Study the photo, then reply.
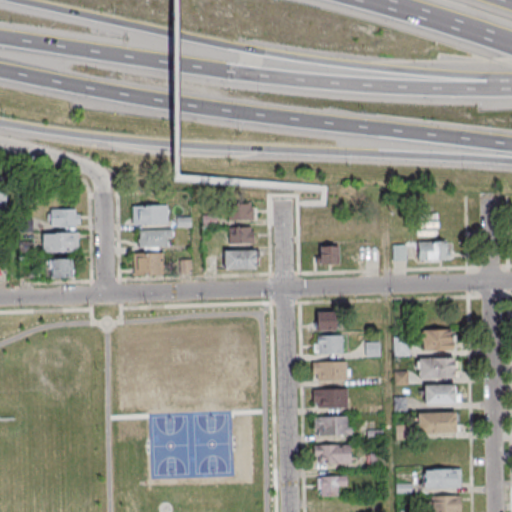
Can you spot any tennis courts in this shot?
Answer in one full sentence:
No, this view has no tennis court in it.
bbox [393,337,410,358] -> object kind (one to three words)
building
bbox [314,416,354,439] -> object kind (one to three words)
house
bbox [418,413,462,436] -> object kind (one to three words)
house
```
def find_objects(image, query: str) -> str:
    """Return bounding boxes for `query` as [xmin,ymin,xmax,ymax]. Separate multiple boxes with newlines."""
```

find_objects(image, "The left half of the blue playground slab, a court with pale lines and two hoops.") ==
[150,412,193,478]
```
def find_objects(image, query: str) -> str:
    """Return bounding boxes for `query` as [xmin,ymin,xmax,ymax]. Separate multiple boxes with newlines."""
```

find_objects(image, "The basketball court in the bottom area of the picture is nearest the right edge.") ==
[190,412,234,477]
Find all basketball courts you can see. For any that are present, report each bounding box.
[150,412,193,478]
[190,412,234,477]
